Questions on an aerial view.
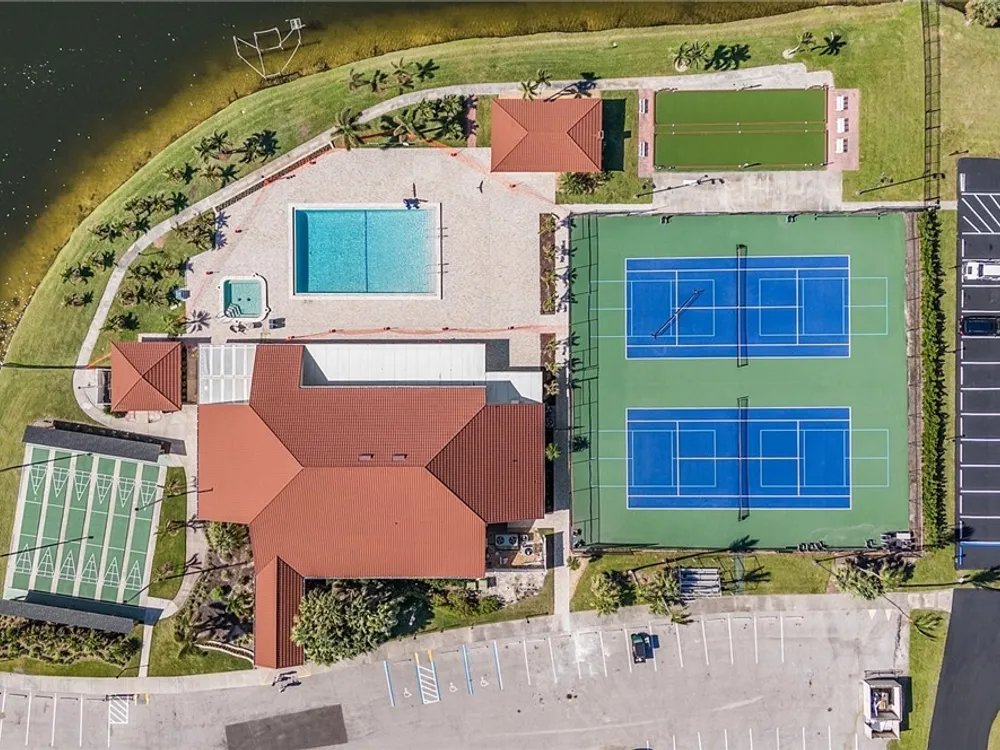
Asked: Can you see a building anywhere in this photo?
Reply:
Yes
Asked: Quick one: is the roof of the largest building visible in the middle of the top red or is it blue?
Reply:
red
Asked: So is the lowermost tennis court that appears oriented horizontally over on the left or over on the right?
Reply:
right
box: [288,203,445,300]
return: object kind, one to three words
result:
swimming pool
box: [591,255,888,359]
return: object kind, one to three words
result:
tennis court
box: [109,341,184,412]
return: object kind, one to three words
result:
building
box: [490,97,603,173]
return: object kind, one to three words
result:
building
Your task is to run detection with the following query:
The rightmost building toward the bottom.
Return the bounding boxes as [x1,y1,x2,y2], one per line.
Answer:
[194,344,547,670]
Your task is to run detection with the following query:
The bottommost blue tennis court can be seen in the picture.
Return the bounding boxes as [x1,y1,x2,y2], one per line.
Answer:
[598,407,889,510]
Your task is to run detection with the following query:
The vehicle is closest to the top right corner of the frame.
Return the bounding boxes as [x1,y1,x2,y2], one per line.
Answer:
[960,259,1000,281]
